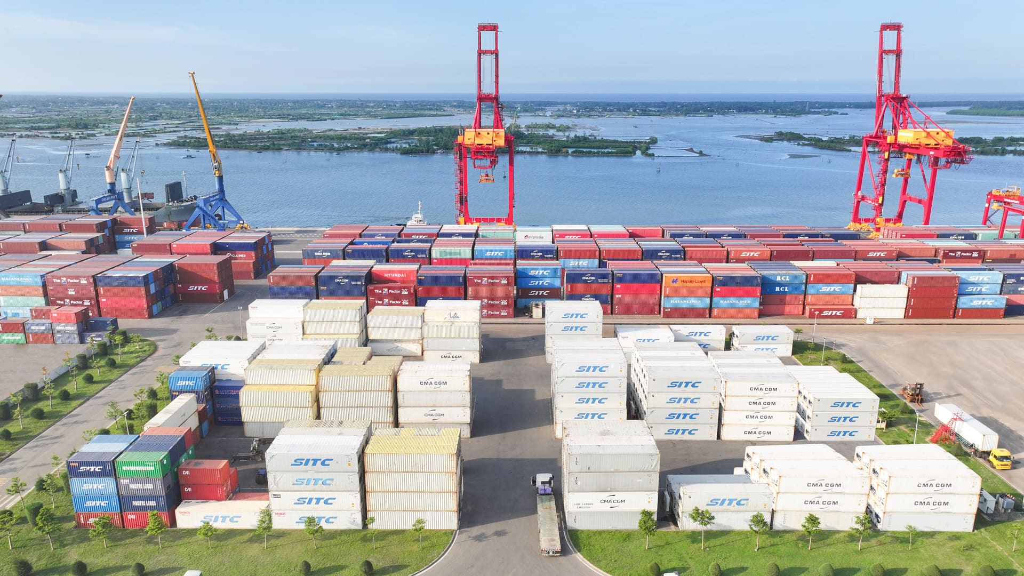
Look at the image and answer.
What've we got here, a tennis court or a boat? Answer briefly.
boat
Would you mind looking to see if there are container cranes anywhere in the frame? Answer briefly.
Yes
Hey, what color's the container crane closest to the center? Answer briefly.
red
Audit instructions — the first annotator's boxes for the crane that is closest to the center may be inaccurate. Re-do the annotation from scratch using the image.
[453,21,523,239]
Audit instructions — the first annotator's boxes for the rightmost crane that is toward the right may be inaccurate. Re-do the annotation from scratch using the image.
[985,187,1024,239]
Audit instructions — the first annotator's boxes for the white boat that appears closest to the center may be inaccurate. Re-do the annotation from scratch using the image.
[392,201,436,227]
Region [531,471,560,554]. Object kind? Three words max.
truck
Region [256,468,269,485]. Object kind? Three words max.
vehicle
